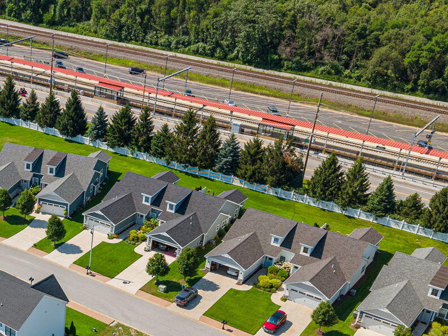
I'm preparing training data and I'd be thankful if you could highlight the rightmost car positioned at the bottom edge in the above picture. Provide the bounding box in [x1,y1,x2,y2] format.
[265,309,287,333]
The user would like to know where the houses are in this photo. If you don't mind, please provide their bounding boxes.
[354,245,448,336]
[0,140,111,219]
[0,272,77,336]
[81,167,241,257]
[204,202,379,307]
